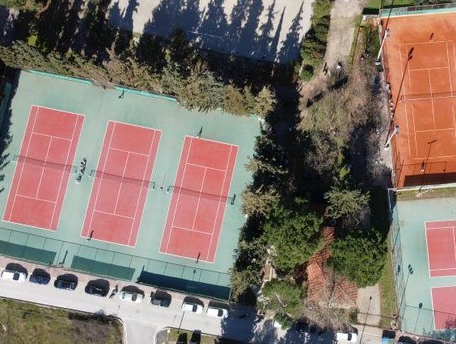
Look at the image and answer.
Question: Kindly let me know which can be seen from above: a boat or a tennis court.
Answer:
tennis court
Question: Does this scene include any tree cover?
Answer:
Yes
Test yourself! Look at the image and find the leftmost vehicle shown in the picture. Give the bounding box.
[1,271,25,284]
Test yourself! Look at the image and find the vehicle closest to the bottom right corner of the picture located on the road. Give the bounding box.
[336,332,358,344]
